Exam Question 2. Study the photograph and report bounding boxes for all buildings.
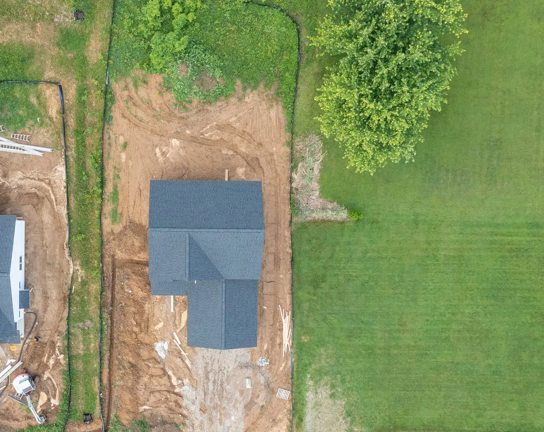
[0,210,32,344]
[148,180,266,349]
